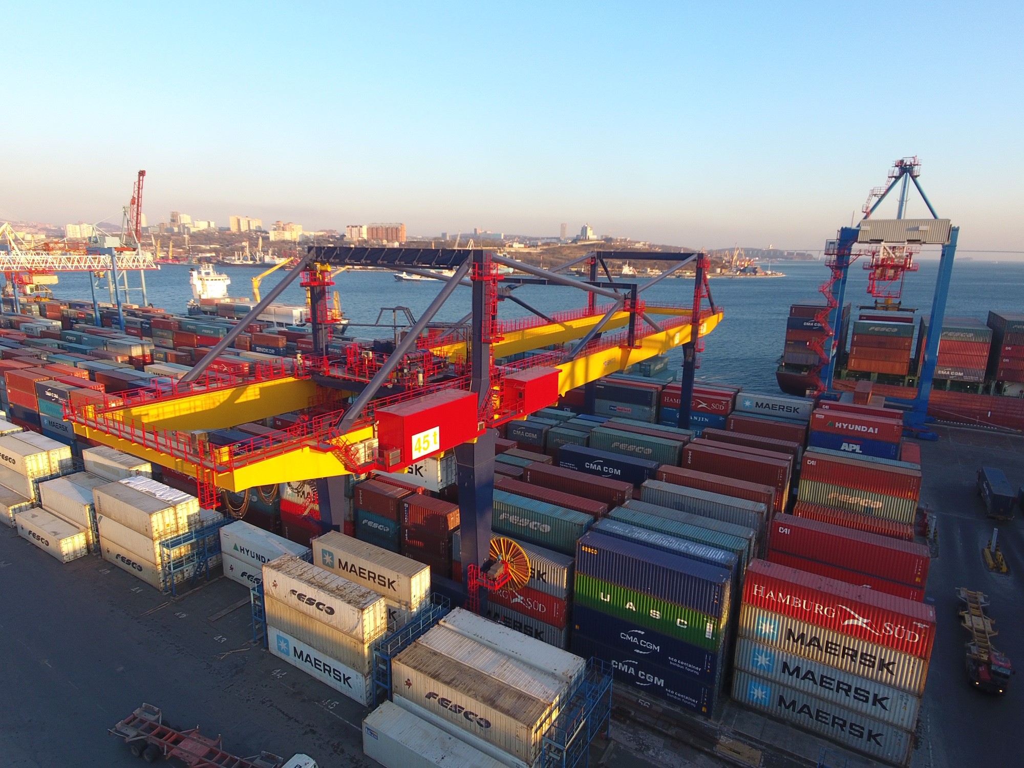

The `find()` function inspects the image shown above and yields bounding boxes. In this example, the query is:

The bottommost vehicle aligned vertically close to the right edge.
[959,578,1009,688]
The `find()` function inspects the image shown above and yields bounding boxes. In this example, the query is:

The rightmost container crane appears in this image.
[805,152,957,440]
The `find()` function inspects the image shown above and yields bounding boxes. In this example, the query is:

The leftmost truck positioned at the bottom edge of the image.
[101,700,323,768]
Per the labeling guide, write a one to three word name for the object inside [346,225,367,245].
building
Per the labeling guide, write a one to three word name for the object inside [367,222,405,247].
building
